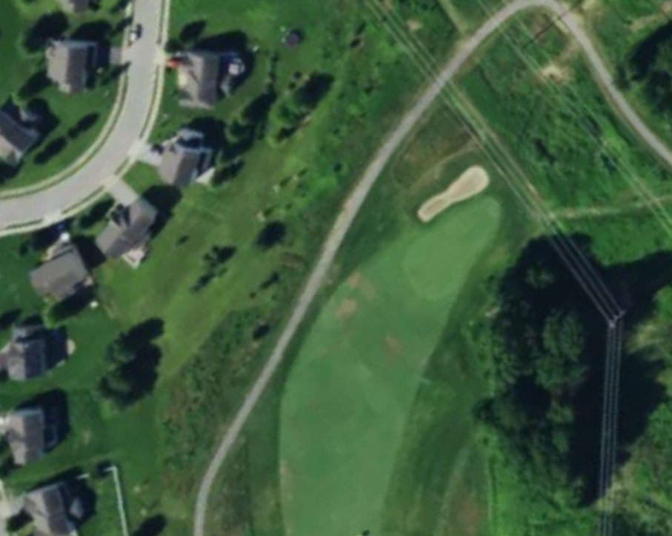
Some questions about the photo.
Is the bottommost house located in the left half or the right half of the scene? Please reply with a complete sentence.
The bottommost house is on the left side of the image.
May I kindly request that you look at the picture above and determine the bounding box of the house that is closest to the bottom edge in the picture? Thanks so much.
[20,484,79,536]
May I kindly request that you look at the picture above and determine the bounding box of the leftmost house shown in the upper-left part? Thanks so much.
[0,104,36,166]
